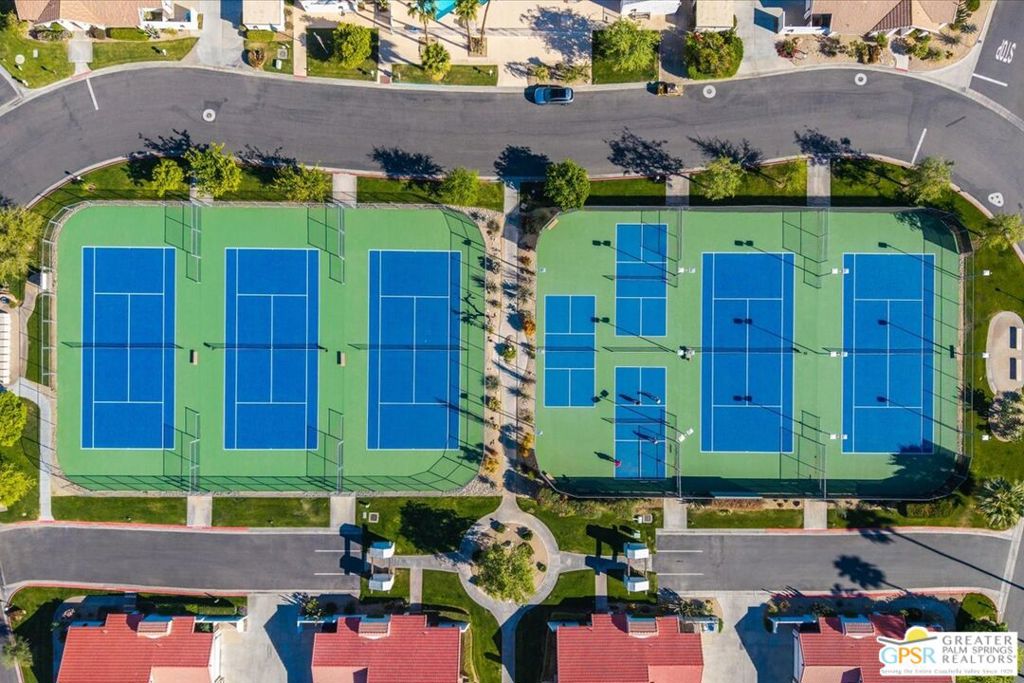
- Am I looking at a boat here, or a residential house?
residential house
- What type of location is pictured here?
sports ground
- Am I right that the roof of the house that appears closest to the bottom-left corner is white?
No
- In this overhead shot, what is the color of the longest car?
blue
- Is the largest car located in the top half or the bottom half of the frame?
top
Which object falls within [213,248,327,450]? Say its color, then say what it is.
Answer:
blue tennis court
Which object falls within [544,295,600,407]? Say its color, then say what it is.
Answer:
blue sports court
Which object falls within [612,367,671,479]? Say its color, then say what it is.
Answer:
blue sports court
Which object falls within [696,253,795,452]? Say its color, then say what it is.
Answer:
blue tennis court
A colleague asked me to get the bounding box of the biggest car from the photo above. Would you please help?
[535,82,575,104]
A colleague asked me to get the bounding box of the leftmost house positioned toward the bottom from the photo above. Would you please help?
[56,611,223,683]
